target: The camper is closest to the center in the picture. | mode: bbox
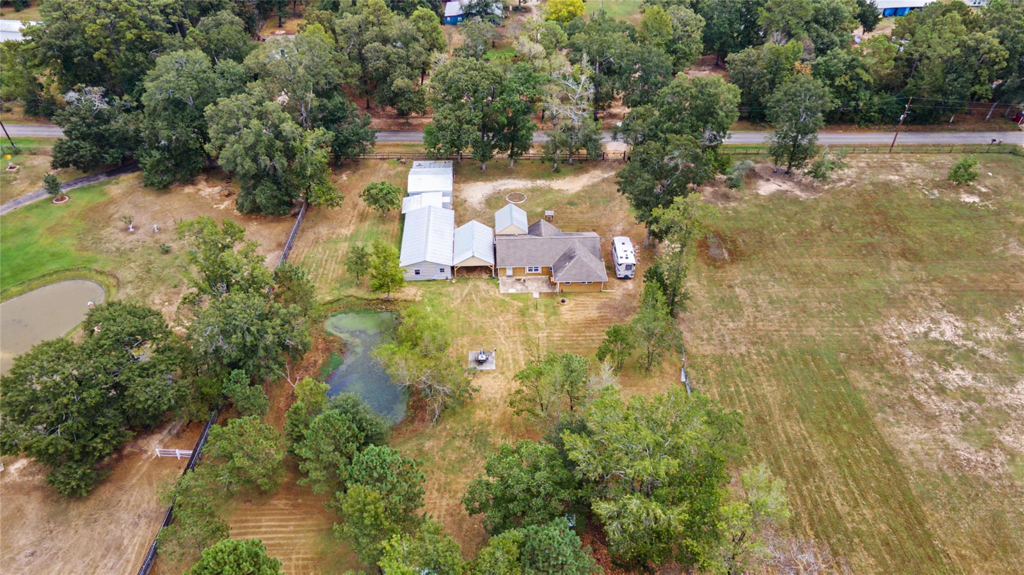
[612,239,635,281]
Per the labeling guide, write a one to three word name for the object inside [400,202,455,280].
barn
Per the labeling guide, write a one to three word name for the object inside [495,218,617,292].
house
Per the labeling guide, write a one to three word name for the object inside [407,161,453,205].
shed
